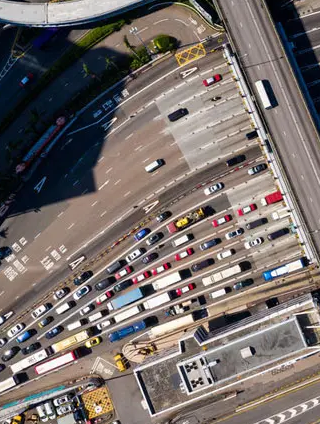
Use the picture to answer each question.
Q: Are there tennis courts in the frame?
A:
No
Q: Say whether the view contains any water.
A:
No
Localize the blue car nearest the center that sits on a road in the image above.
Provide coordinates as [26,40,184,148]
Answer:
[134,228,151,243]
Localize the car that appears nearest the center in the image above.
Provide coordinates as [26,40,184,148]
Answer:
[155,210,173,224]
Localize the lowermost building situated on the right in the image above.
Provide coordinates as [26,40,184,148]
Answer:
[134,292,320,416]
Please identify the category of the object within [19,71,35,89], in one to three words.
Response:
car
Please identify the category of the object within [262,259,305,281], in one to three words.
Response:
truck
